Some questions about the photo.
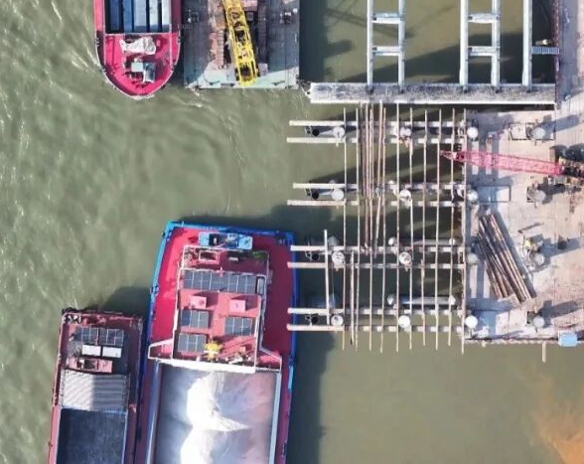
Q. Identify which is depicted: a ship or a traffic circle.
ship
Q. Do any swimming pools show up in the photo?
No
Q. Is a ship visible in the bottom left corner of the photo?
Yes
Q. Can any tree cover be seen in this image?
No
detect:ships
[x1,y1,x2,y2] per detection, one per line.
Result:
[94,0,183,96]
[184,0,299,90]
[46,306,144,464]
[140,221,295,464]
